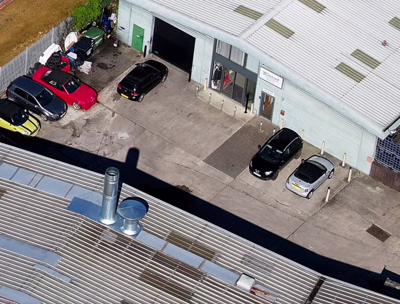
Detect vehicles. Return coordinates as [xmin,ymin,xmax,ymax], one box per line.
[0,96,42,137]
[51,63,101,111]
[286,157,335,199]
[115,58,168,103]
[247,126,307,182]
[5,72,66,120]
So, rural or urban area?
urban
